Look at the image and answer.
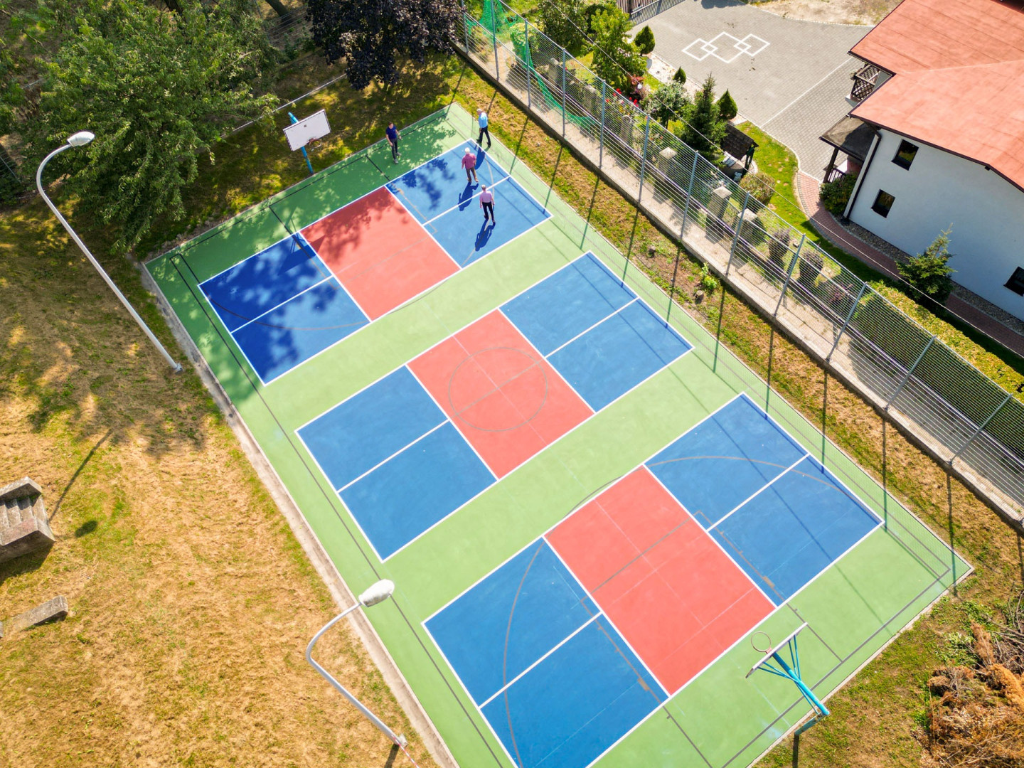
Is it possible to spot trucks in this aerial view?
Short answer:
No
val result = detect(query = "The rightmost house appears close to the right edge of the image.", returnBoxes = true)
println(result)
[813,0,1024,324]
